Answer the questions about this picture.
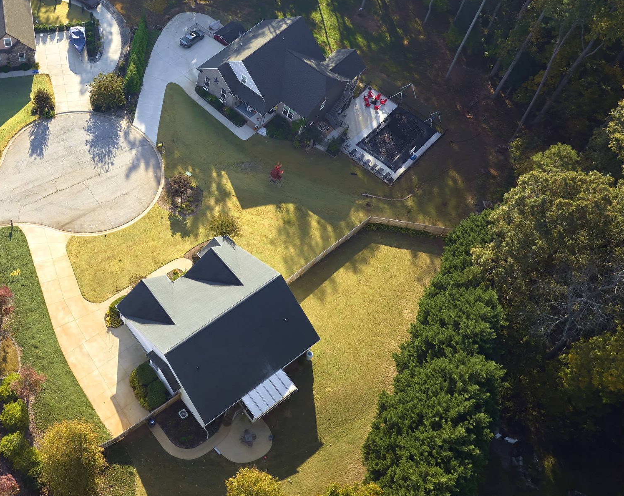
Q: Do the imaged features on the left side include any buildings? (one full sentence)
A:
Yes, a building can be seen on the left side.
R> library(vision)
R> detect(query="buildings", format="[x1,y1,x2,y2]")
[196,15,368,132]
[0,0,35,65]
[113,234,319,449]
